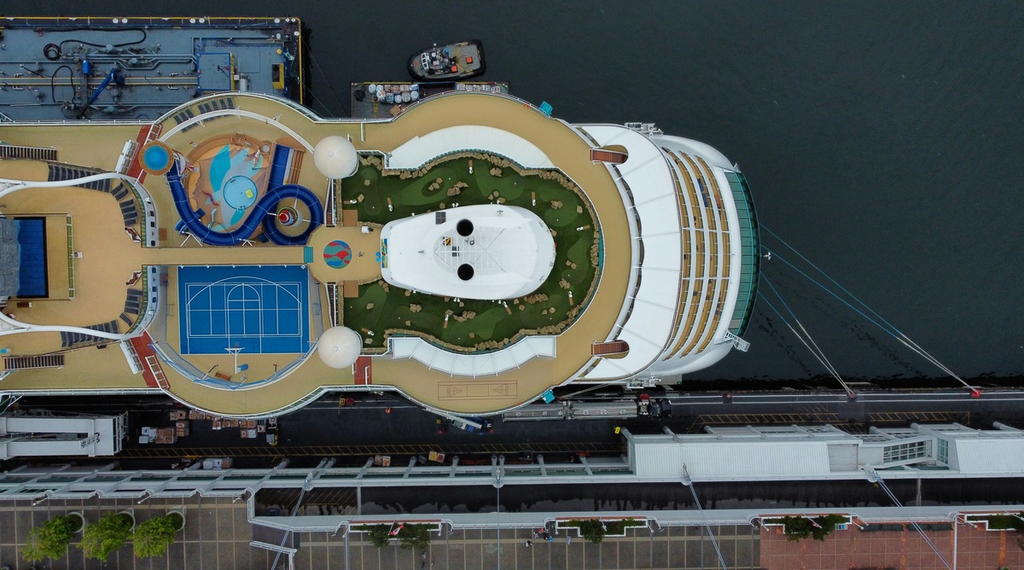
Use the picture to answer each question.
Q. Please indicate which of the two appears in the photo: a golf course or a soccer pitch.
golf course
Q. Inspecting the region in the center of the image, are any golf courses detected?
Yes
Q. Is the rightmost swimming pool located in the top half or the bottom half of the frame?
top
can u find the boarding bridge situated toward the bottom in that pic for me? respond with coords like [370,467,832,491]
[0,407,140,460]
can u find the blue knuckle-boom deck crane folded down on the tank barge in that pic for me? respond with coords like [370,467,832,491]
[77,68,123,118]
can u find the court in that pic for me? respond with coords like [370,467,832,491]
[178,266,309,377]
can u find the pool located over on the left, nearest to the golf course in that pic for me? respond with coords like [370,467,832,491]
[184,133,268,243]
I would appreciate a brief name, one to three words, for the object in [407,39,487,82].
boat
